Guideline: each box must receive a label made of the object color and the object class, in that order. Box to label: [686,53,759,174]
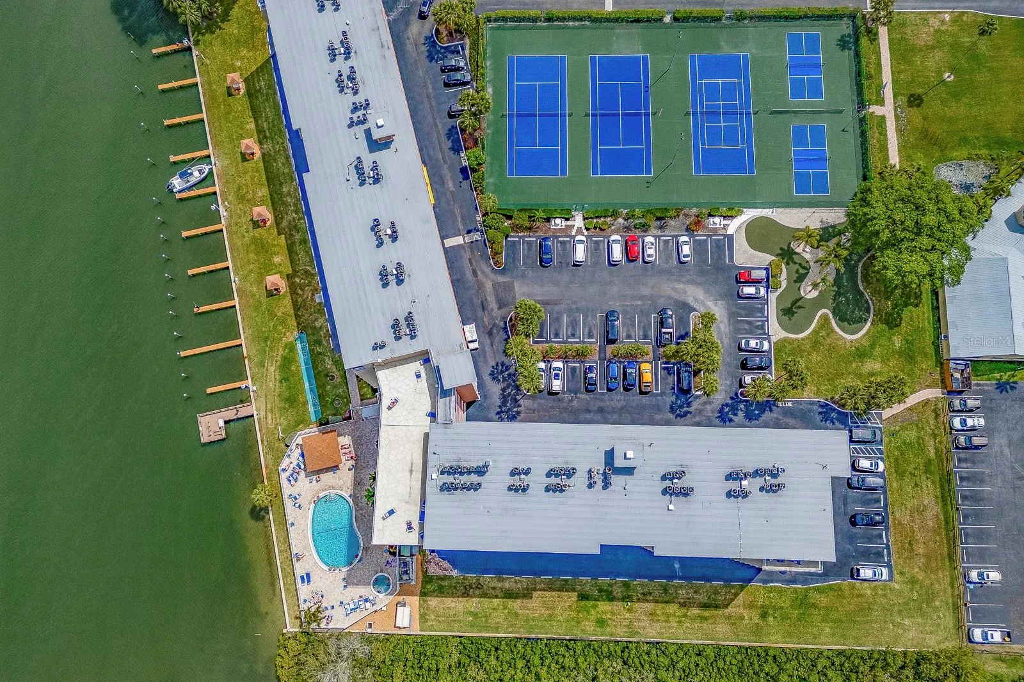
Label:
blue tennis court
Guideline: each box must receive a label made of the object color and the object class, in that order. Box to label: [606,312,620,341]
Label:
blue vehicle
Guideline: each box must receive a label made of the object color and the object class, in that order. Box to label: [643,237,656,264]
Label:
white vehicle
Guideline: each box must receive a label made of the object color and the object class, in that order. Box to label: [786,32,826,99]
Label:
blue sports court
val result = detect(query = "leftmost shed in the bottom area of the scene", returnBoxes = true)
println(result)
[302,430,343,472]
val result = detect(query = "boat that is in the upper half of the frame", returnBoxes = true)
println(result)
[165,166,211,193]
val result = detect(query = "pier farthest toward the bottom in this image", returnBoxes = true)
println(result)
[196,403,253,443]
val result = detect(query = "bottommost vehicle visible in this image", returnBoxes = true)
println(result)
[970,628,1010,644]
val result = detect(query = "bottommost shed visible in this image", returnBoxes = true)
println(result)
[395,605,411,630]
